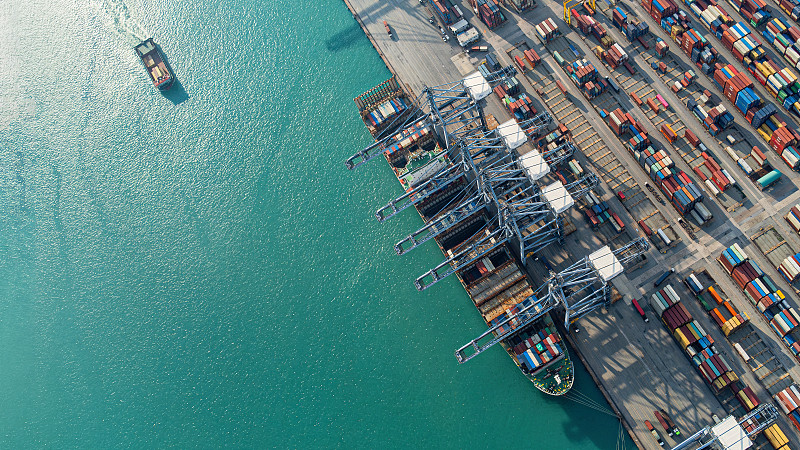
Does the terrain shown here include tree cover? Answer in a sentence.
No, there is no tree cover in the image.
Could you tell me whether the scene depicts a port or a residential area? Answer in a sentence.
It's a port.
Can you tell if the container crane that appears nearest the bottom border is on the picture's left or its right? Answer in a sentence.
The container crane that appears nearest the bottom border is on the right side of the image.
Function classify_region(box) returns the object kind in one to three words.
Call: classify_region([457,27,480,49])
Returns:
building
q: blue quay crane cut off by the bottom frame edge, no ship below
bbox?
[675,402,784,450]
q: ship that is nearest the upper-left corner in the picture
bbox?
[131,34,177,96]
